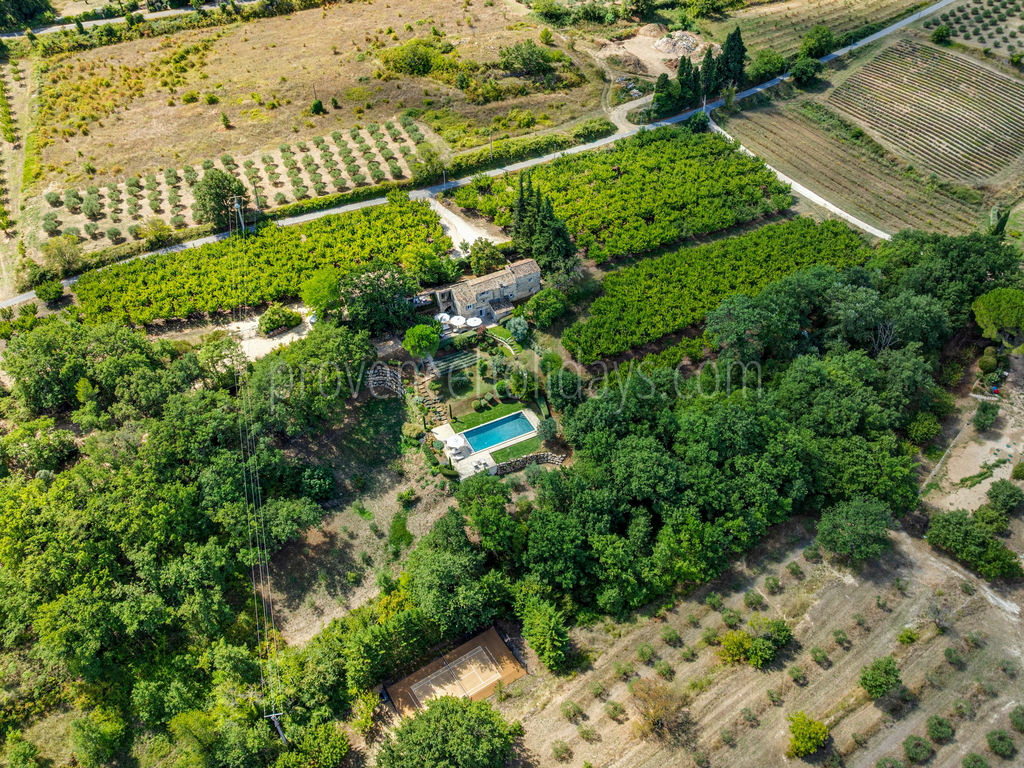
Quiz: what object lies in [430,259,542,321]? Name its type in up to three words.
house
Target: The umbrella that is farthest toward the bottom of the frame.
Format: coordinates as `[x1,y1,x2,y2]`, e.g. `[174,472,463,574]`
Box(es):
[447,436,464,453]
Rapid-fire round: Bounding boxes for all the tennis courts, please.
[387,627,526,739]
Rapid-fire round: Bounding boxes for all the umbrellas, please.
[447,436,464,453]
[467,318,482,332]
[435,314,450,323]
[451,317,466,331]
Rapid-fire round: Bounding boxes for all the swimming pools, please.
[456,410,537,455]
